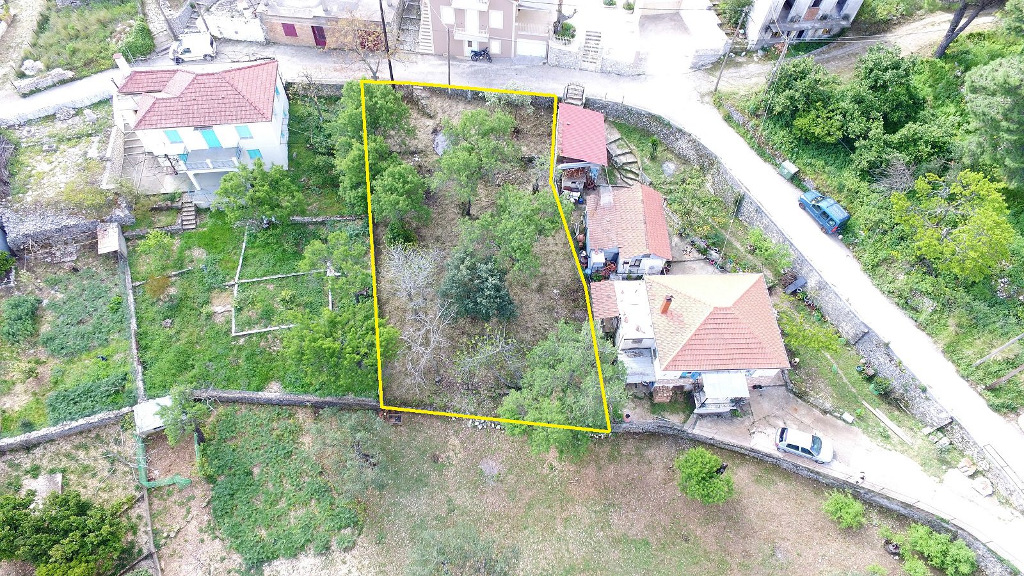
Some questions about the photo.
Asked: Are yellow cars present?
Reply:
No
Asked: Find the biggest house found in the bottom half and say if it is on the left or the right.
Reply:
right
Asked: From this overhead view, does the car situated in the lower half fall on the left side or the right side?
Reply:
right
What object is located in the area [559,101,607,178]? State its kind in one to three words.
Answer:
shed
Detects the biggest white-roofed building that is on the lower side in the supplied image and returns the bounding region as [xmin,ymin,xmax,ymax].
[590,272,791,431]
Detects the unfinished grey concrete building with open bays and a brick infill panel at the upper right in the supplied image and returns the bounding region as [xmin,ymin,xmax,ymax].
[748,0,870,49]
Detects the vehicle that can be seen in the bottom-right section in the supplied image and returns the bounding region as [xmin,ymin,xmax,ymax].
[776,426,837,463]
